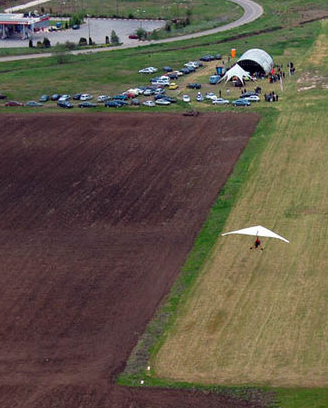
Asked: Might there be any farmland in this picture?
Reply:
Yes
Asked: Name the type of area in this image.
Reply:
airport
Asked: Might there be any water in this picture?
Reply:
No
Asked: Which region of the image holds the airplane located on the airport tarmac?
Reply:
right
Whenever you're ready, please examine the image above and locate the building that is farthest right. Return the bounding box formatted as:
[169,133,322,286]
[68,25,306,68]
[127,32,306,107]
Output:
[237,49,273,73]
